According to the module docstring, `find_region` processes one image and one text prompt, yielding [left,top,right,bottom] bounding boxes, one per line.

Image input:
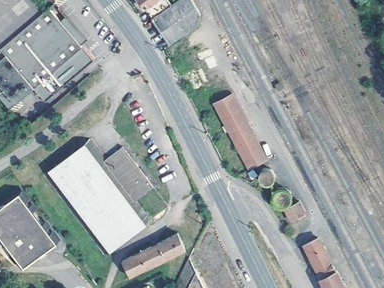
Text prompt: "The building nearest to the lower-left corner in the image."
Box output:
[0,189,62,270]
